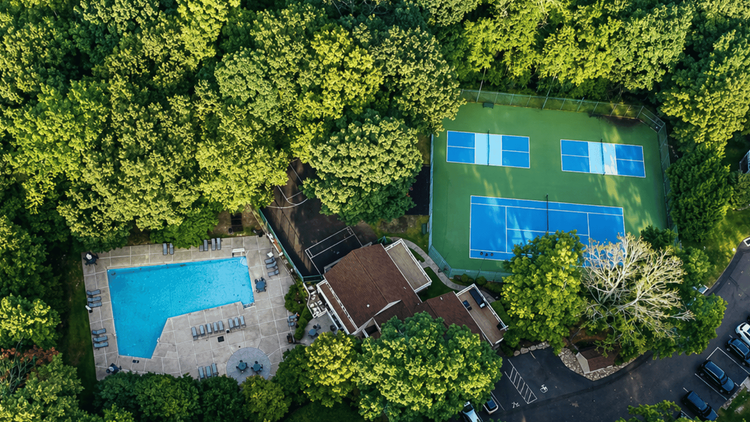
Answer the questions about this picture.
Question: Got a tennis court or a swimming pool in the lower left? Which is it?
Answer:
swimming pool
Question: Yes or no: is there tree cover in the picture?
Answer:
Yes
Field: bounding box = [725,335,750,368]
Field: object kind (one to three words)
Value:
car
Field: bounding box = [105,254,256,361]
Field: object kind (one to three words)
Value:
swimming pool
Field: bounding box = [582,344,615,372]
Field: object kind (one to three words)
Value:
shed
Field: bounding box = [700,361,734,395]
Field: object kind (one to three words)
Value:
car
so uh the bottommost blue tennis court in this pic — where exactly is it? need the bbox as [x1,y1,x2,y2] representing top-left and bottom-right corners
[469,196,628,271]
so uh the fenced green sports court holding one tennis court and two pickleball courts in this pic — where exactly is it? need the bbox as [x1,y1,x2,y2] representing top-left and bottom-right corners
[430,101,672,295]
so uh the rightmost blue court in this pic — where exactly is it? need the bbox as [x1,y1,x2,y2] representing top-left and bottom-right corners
[560,139,646,177]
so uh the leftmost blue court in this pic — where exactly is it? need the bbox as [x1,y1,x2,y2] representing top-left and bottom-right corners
[446,130,530,169]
